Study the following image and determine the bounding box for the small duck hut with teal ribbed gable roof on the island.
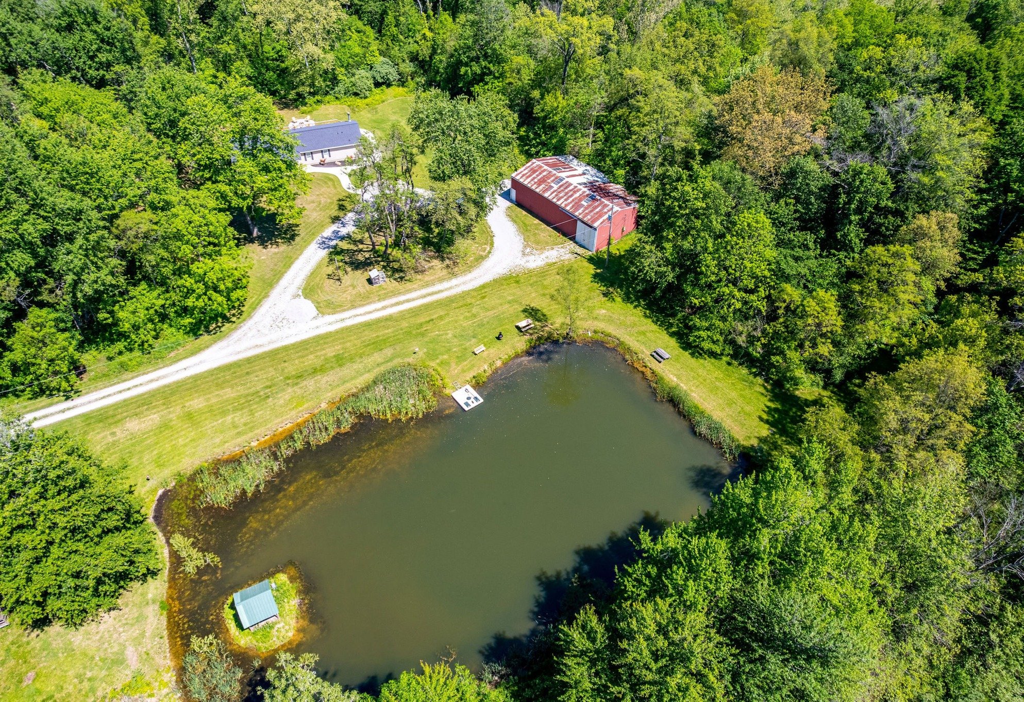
[232,582,277,638]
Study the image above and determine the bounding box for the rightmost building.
[509,157,640,252]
